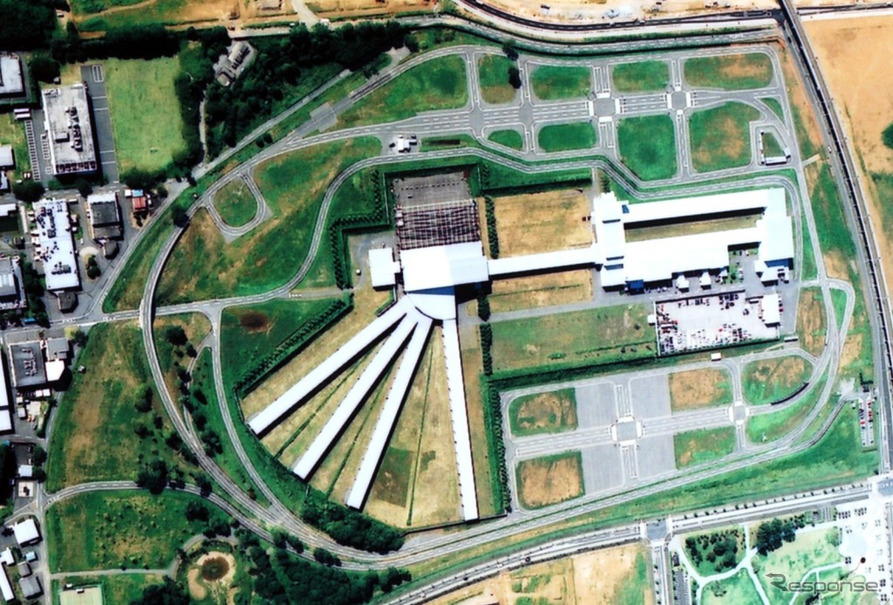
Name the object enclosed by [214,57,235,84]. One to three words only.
house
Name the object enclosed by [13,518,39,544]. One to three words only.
shed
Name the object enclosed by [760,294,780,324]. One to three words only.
building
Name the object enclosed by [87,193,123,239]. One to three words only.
building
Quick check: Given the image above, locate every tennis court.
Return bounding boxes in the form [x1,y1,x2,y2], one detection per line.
[58,582,104,605]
